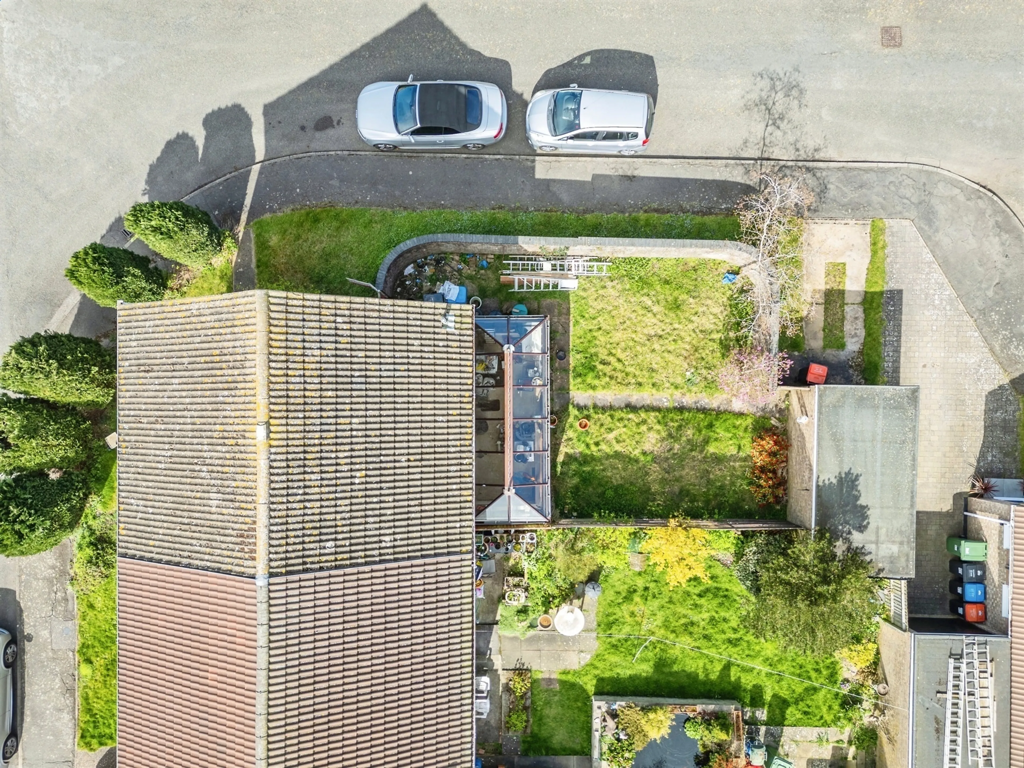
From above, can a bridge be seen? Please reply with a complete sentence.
No, no bridge can be seen from above.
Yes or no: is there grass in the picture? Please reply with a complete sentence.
Yes, grass shows up in the scene.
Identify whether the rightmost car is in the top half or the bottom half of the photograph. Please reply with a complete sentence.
The top half of the photo is where the rightmost car is.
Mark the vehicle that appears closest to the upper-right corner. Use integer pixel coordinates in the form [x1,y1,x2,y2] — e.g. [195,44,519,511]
[527,77,655,154]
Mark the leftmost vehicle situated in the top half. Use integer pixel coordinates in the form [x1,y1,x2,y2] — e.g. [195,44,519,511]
[353,73,504,150]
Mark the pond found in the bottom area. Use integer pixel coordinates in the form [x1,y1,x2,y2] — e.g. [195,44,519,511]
[592,696,745,768]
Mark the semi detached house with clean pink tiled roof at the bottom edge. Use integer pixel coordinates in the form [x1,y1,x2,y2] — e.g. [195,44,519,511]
[113,550,478,768]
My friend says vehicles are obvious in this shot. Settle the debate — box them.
[353,73,504,150]
[0,630,16,768]
[527,77,655,154]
